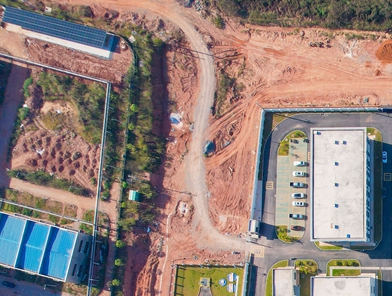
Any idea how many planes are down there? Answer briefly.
zero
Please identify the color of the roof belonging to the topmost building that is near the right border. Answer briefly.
white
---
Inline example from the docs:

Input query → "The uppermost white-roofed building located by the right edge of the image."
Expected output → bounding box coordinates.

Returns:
[310,128,381,250]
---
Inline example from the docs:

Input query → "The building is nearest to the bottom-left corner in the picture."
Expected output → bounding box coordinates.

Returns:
[0,211,91,284]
